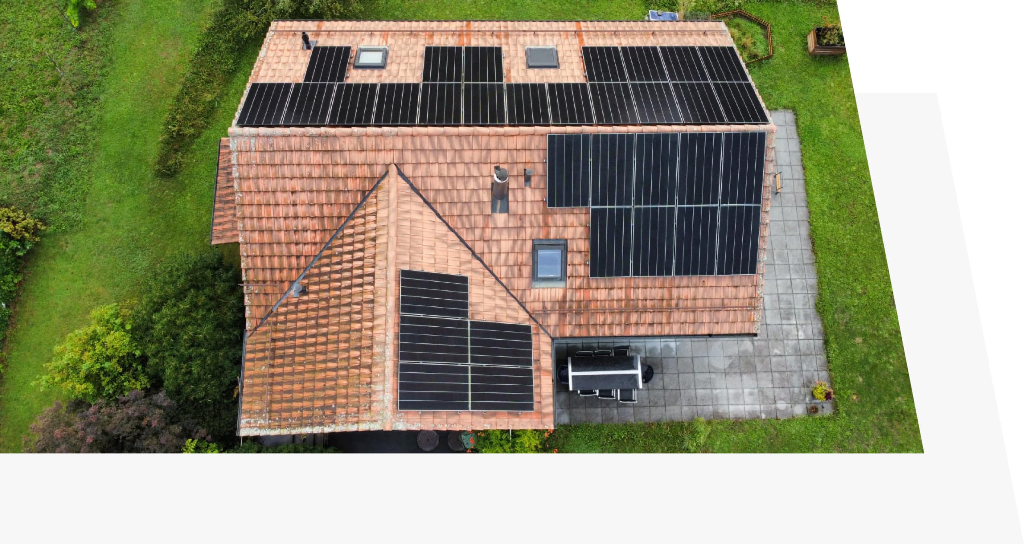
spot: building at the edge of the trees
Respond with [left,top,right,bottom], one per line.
[207,18,778,437]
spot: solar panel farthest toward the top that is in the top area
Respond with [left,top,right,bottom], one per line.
[648,6,679,19]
